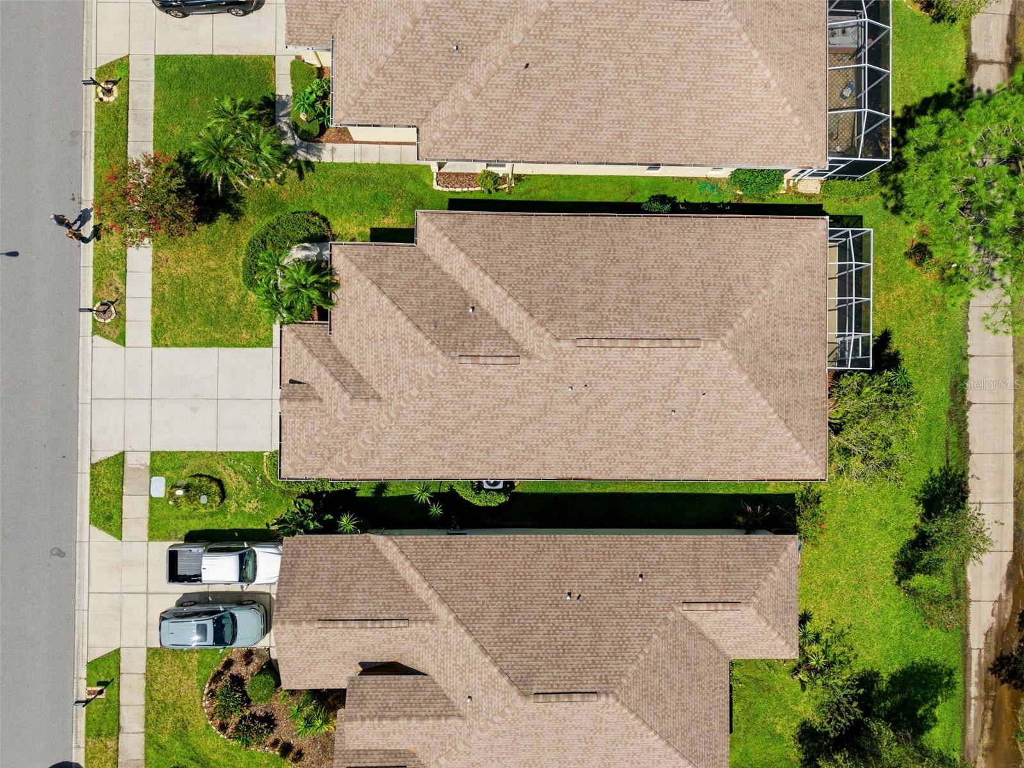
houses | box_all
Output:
[270,528,800,768]
[281,0,829,188]
[276,213,830,483]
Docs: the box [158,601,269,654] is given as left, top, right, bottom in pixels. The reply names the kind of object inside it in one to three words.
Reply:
car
